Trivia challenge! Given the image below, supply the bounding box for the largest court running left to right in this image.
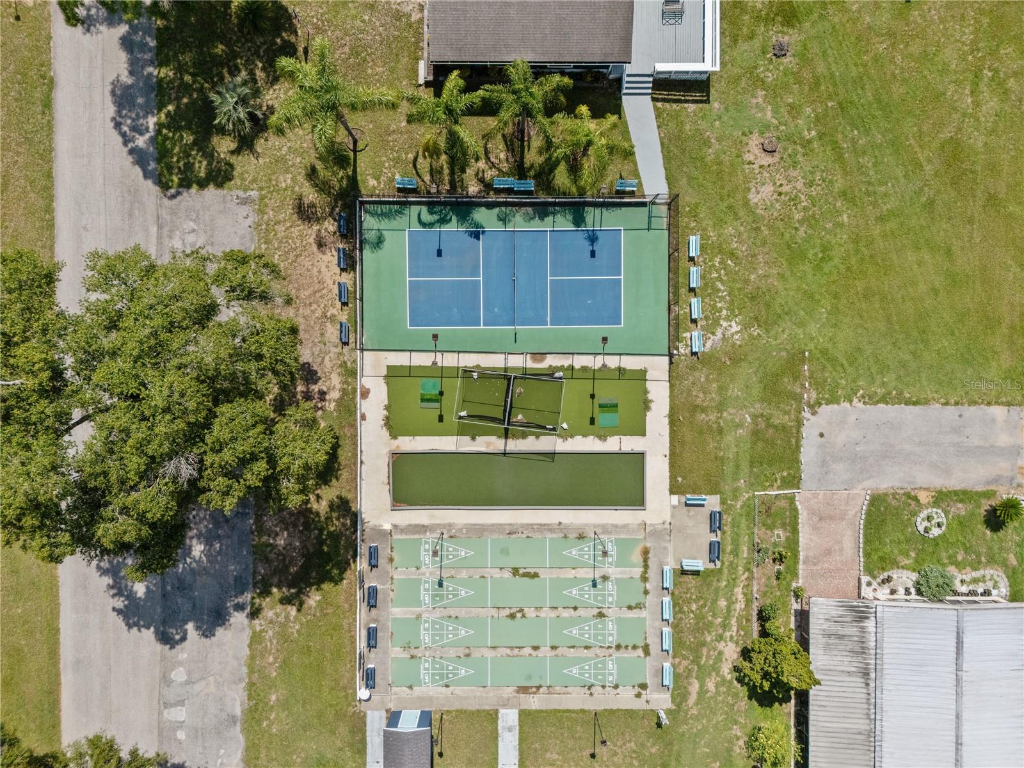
[362,203,670,354]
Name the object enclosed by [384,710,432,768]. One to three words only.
shed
